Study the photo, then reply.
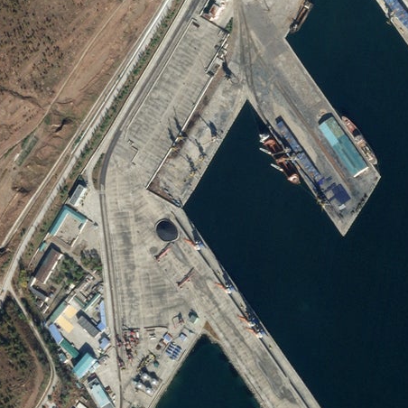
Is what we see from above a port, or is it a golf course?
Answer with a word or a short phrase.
port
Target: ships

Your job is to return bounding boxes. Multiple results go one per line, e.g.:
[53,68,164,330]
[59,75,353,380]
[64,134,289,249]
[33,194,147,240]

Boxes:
[258,133,298,184]
[291,2,311,33]
[342,116,378,167]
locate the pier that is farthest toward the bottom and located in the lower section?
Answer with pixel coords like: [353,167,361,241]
[182,208,320,408]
